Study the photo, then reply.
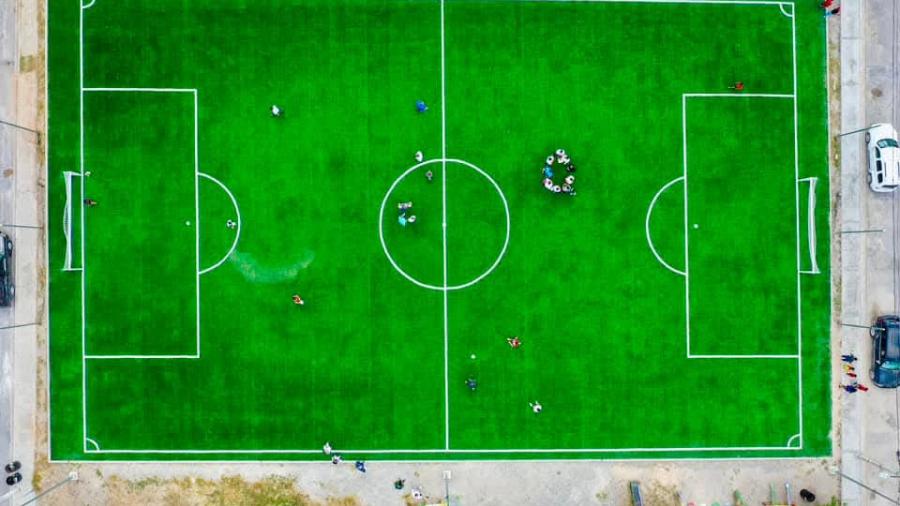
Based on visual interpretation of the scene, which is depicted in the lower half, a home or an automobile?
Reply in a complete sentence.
The one visible in the lower half is an automobile.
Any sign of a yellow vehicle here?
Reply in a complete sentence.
No, no yellow vehicle is visible in the scene.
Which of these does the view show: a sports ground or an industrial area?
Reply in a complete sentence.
What you see here is a sports ground.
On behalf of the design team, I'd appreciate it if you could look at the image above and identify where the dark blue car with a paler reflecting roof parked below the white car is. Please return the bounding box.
[867,314,900,387]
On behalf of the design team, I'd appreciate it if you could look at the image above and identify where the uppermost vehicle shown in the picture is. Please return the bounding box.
[866,125,900,194]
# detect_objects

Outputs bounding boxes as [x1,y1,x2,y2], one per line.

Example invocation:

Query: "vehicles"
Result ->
[0,231,13,307]
[866,125,900,194]
[867,314,900,387]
